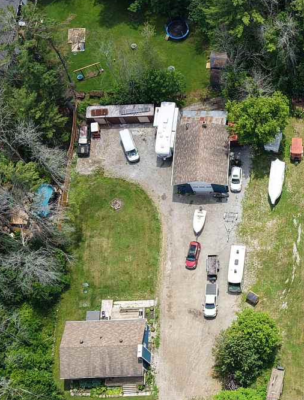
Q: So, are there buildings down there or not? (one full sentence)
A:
Yes, I can see a building in this picture.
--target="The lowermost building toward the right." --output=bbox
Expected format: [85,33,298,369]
[173,126,229,193]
